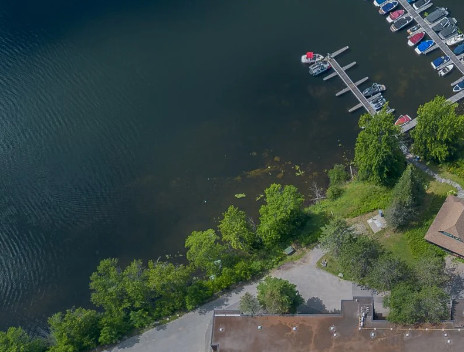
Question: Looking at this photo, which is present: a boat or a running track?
boat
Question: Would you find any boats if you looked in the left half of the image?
No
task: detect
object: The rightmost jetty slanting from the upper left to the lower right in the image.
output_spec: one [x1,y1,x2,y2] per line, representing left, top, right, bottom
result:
[398,0,464,76]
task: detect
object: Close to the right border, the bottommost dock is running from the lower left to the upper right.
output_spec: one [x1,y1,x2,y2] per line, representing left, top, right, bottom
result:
[399,99,446,133]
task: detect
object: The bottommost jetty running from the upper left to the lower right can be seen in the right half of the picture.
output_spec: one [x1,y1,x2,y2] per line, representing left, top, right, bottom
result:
[327,55,377,119]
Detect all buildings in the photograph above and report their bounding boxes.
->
[424,195,464,259]
[210,295,464,352]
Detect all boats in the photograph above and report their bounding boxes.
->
[447,32,464,46]
[428,55,450,71]
[371,96,385,107]
[453,80,464,92]
[307,58,331,77]
[388,16,411,33]
[407,24,422,36]
[445,16,459,28]
[377,1,398,16]
[411,40,433,56]
[372,101,386,111]
[393,111,415,128]
[428,17,450,33]
[437,22,461,40]
[404,32,425,48]
[384,9,404,25]
[371,0,388,9]
[363,80,388,96]
[450,41,464,56]
[298,54,323,62]
[380,107,395,116]
[423,5,451,25]
[437,65,453,78]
